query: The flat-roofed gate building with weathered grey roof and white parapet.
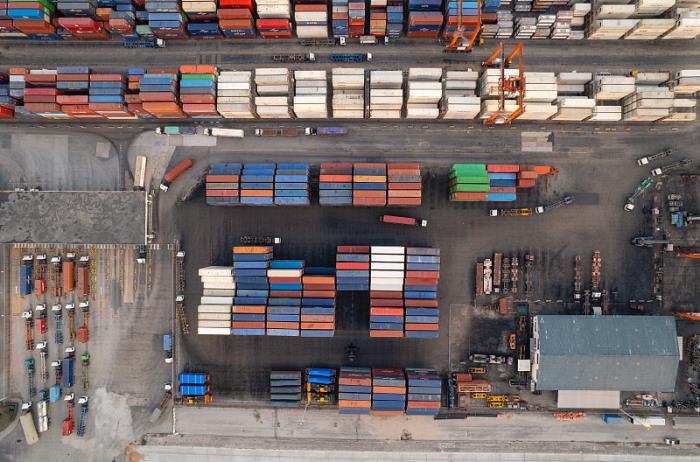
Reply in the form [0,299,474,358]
[0,188,147,247]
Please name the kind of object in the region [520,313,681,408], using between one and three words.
building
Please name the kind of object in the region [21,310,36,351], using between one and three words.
vehicle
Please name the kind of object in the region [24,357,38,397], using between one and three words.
vehicle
